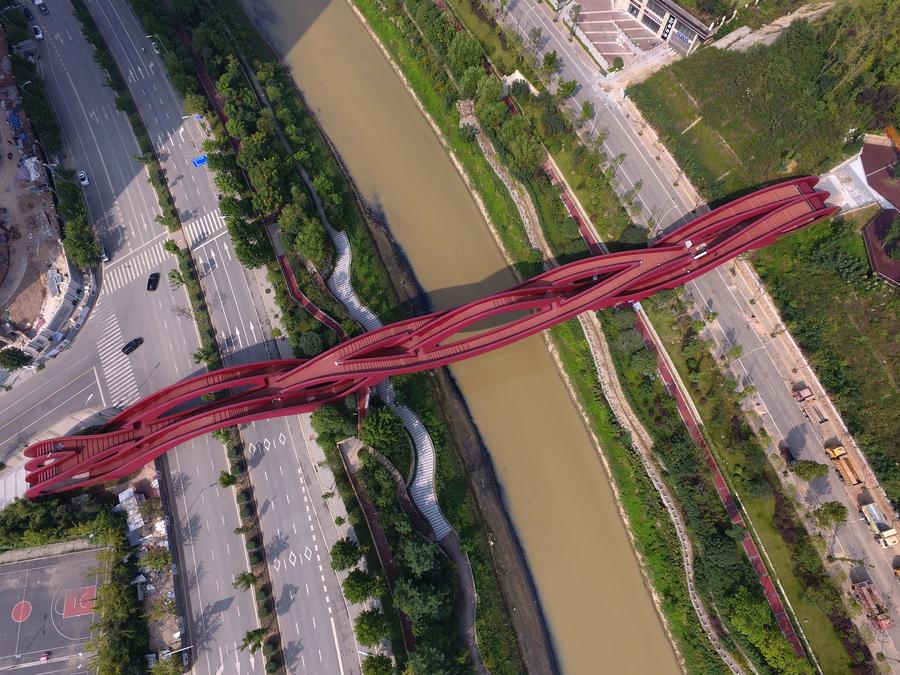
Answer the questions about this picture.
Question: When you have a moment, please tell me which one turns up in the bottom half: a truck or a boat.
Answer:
truck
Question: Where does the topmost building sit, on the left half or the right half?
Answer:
right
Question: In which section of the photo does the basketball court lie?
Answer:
bottom left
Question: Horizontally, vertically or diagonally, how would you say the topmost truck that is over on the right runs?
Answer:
diagonally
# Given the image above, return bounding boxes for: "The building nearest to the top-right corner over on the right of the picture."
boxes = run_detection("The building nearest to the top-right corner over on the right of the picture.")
[605,0,729,57]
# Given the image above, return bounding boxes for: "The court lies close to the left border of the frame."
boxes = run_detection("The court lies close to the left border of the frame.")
[0,549,108,675]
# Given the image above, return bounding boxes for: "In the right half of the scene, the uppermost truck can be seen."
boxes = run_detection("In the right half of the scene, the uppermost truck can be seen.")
[796,385,838,425]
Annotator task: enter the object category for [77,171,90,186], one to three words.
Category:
vehicle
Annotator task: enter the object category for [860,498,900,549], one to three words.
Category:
truck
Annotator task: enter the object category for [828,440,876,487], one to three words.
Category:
truck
